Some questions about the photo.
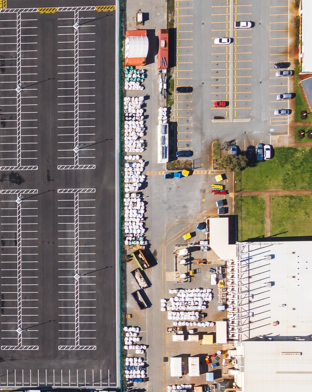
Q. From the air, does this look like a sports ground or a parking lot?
parking lot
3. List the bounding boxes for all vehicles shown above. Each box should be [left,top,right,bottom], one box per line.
[274,62,289,69]
[276,69,291,77]
[215,37,230,44]
[214,101,227,108]
[255,144,262,160]
[177,86,192,93]
[233,21,251,28]
[246,146,254,161]
[177,150,192,157]
[263,145,271,160]
[277,94,292,100]
[274,110,289,116]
